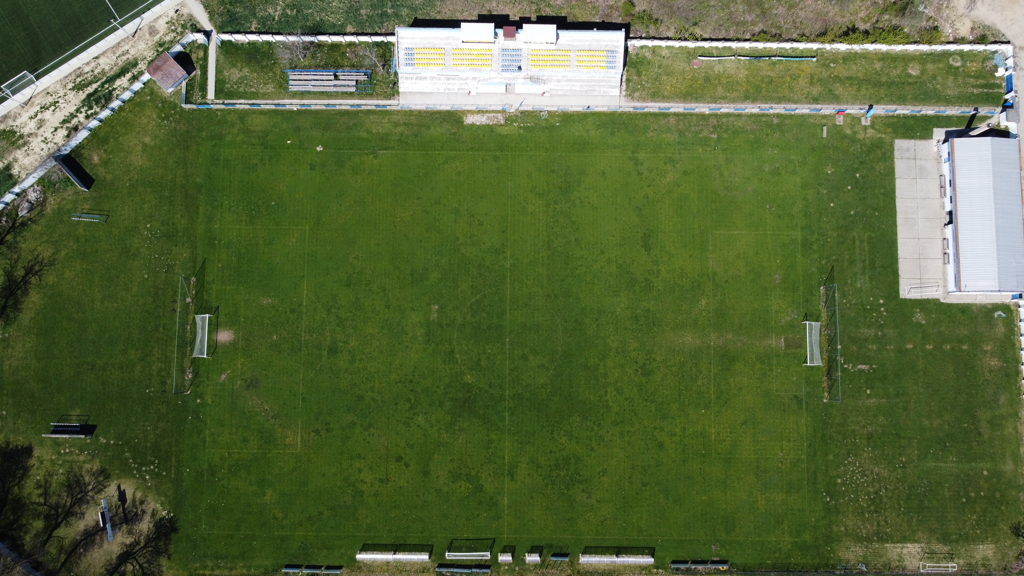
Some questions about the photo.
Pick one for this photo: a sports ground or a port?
sports ground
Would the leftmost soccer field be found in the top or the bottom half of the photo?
top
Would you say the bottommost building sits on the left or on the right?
right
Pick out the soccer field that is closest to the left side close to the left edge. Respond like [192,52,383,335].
[0,0,159,98]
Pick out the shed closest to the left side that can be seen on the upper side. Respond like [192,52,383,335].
[146,52,190,94]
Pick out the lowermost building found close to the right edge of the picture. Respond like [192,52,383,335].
[940,135,1024,293]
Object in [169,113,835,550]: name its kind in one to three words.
soccer field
